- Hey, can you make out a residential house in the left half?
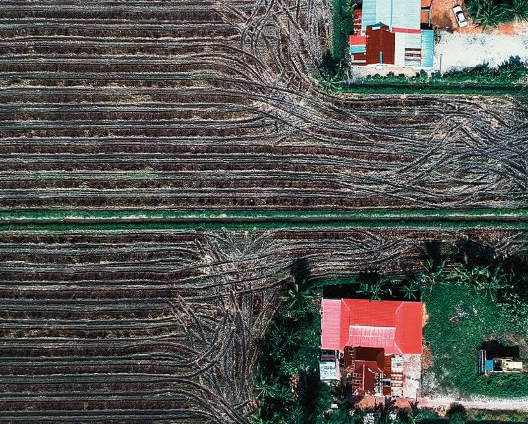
No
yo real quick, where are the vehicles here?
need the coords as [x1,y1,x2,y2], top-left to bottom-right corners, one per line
[453,5,467,27]
[476,349,522,376]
